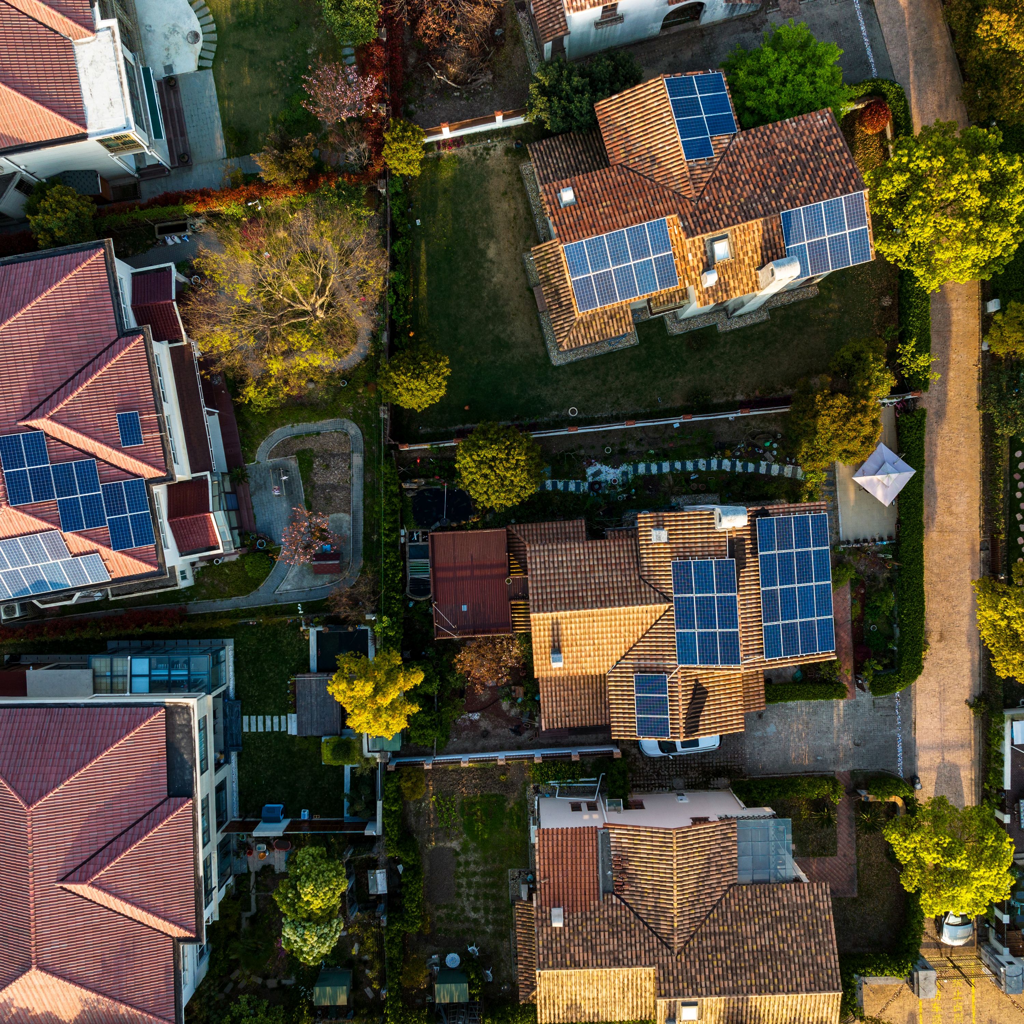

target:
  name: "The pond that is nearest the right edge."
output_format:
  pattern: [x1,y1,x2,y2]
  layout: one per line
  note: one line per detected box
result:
[412,487,473,525]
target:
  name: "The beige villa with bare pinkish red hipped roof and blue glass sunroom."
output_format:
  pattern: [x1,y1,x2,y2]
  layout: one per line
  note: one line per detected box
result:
[0,645,233,1024]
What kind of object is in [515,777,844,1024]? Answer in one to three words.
house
